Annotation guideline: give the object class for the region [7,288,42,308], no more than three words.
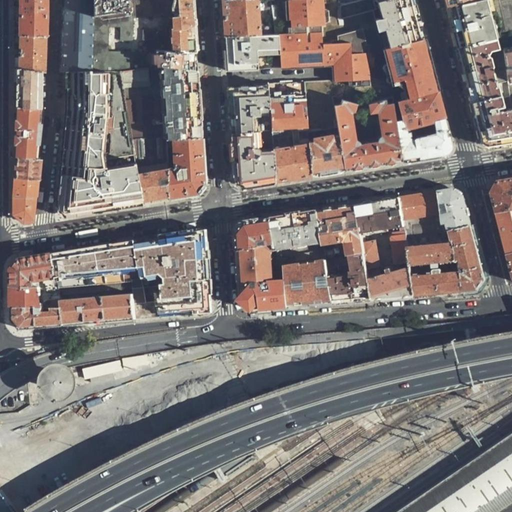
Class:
building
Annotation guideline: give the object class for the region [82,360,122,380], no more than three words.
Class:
shed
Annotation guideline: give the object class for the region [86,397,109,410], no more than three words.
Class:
vehicle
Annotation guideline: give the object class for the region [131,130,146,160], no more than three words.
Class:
house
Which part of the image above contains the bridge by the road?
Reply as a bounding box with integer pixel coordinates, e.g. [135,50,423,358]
[24,331,512,512]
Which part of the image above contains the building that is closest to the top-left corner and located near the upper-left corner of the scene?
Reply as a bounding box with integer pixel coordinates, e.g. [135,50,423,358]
[18,0,50,37]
